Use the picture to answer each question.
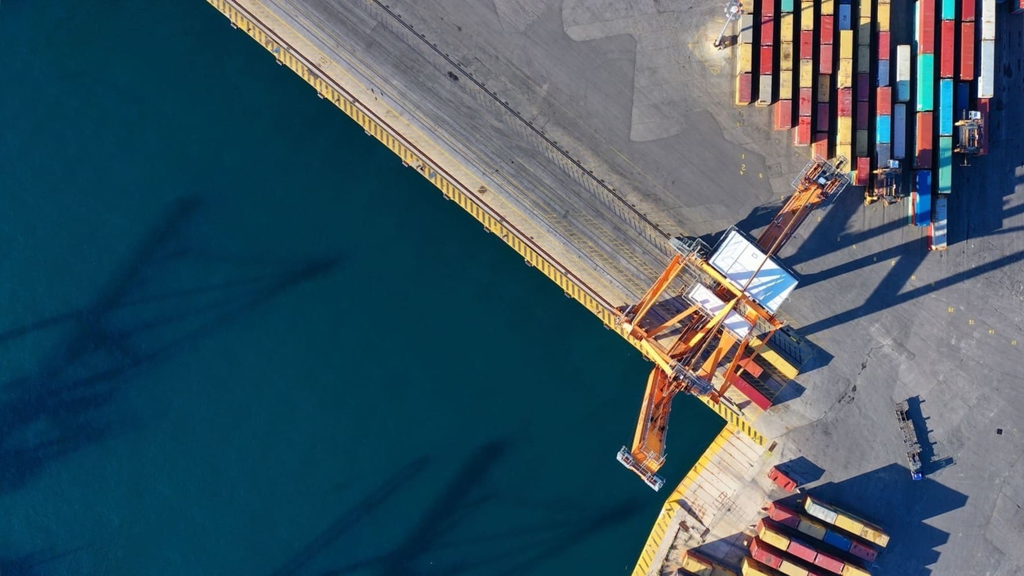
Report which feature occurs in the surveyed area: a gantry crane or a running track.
gantry crane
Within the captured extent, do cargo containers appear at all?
Yes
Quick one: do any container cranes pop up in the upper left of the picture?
No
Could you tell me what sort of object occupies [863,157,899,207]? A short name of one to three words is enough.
work vehicle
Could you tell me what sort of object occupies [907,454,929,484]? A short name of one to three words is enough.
truck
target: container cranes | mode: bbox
[607,148,852,487]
